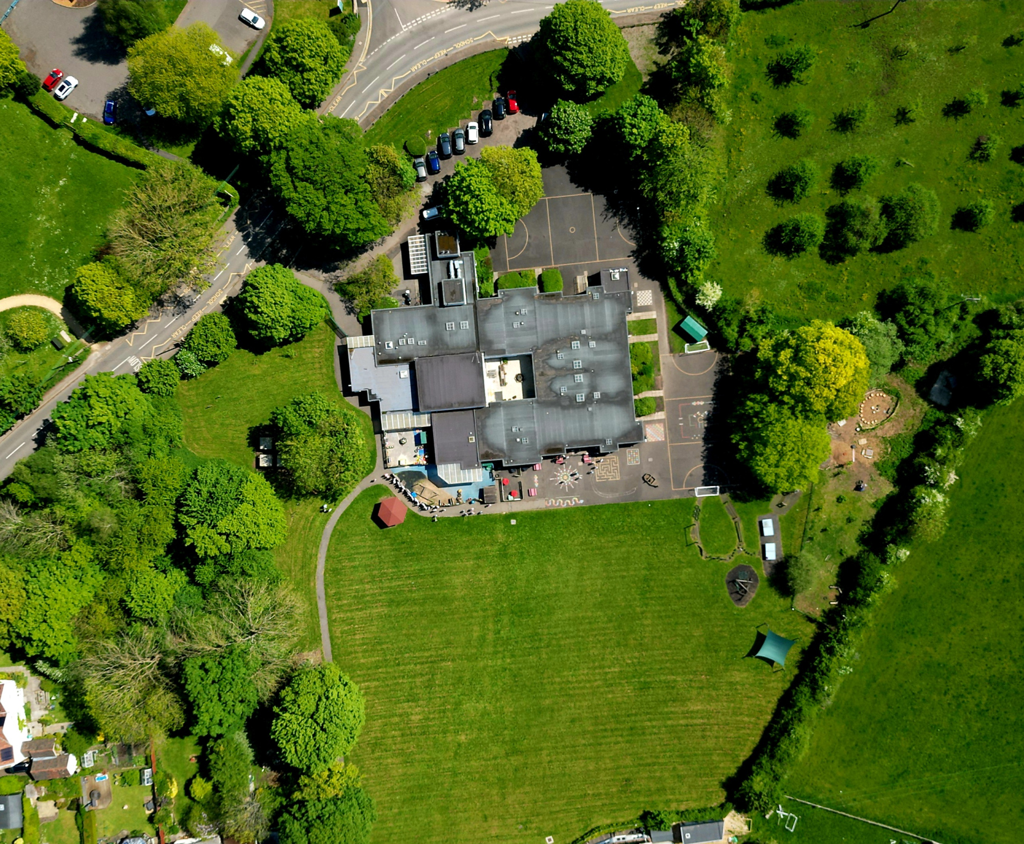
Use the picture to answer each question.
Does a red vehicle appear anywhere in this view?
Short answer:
Yes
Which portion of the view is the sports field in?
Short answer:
bottom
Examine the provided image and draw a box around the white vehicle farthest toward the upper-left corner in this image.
[54,75,78,100]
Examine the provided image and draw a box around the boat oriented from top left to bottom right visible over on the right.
[643,473,659,487]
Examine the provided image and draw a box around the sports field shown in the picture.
[271,479,820,844]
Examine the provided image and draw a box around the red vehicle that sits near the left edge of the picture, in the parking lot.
[43,69,64,91]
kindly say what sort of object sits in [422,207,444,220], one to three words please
vehicle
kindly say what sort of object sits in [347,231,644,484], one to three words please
building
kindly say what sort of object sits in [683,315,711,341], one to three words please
shed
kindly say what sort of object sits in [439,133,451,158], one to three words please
vehicle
